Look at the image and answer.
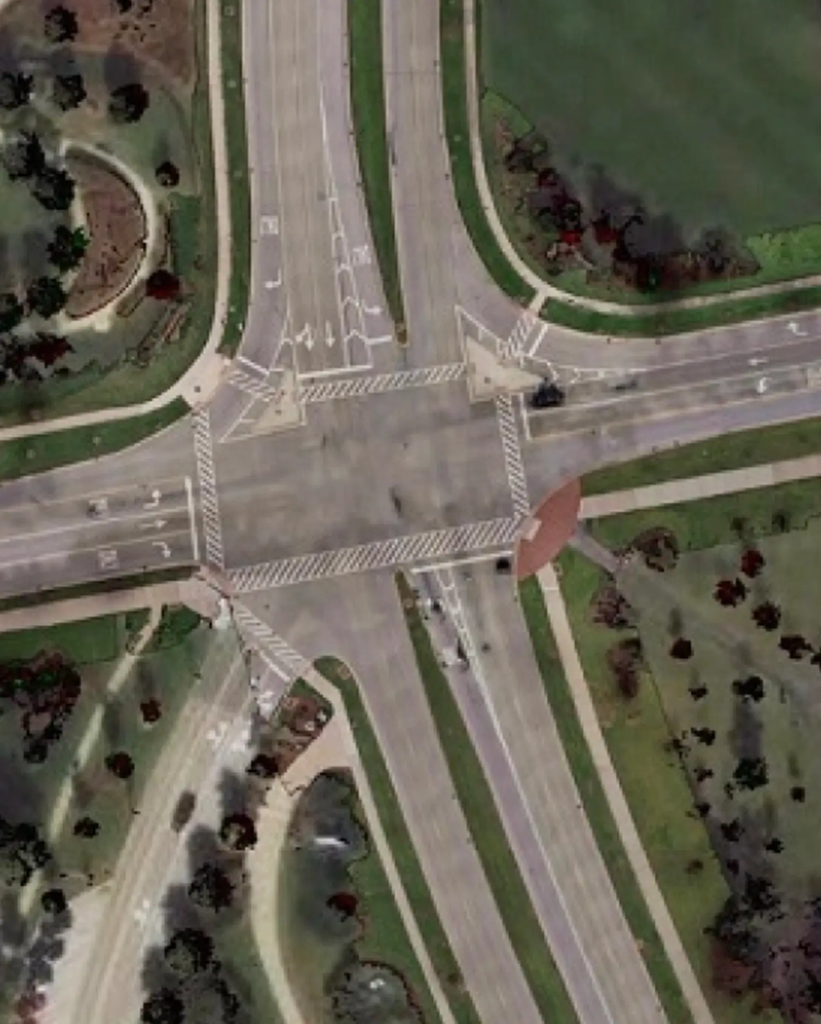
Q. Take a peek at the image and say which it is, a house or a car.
car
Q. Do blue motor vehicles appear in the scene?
No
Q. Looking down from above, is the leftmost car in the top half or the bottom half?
bottom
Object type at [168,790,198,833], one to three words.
car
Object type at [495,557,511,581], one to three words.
car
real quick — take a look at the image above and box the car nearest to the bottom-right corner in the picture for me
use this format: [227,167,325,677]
[442,638,466,676]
